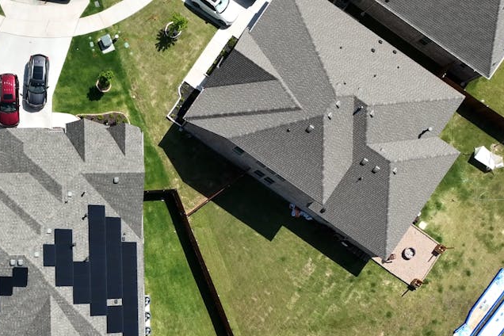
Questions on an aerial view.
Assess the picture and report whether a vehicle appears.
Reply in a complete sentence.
Yes, the image includes a vehicle.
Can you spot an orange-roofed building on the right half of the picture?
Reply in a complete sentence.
No, no orange-roofed building is visible on the right half of the picture.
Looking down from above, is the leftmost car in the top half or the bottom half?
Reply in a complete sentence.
You can find the leftmost car in the top half.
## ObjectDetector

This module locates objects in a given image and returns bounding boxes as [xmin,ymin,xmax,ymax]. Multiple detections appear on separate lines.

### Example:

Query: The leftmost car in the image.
[0,72,23,129]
